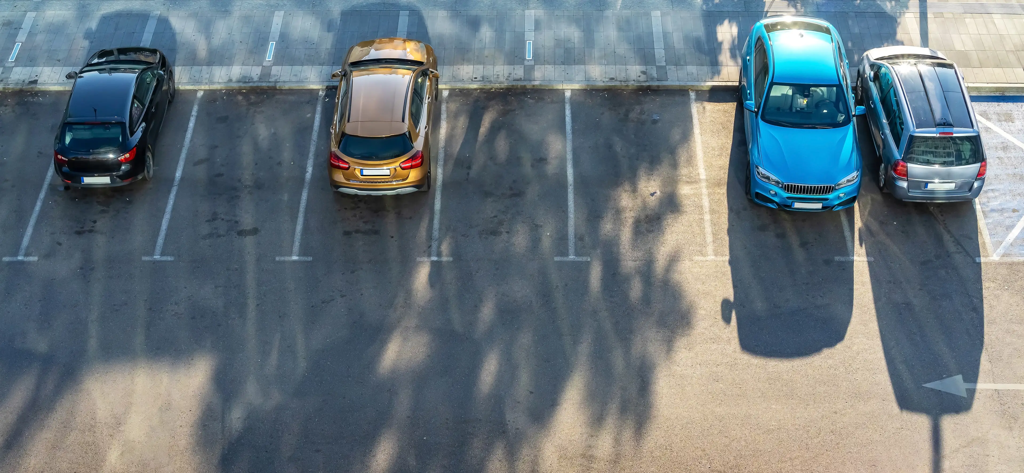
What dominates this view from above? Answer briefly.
paved ground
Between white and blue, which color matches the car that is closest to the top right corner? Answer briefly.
blue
